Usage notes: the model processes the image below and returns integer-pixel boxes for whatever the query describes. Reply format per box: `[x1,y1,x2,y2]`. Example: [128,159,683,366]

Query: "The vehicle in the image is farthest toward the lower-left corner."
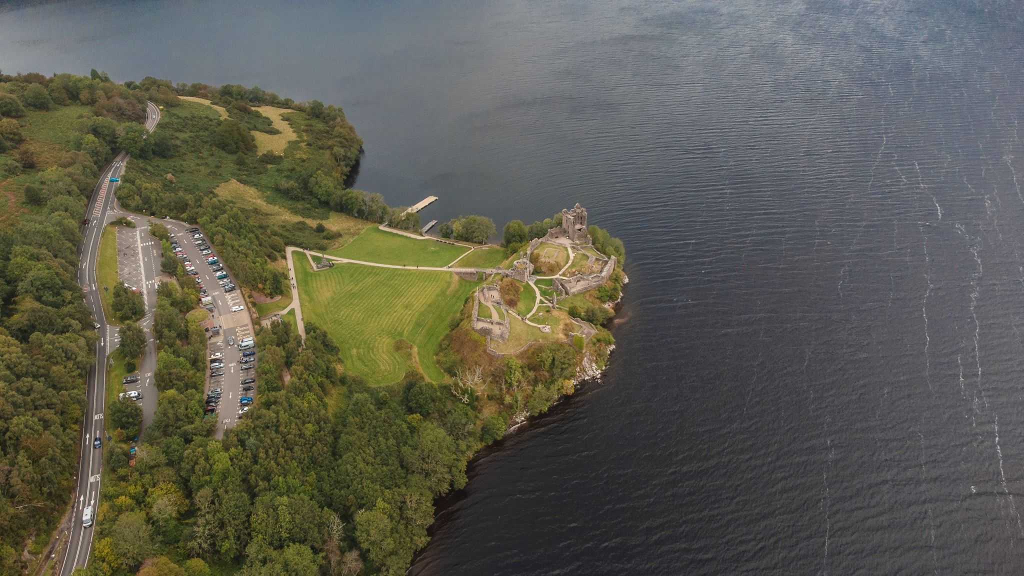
[84,505,96,528]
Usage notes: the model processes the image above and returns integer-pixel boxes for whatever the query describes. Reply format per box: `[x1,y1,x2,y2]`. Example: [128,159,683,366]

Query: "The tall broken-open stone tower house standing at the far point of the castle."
[561,204,590,243]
